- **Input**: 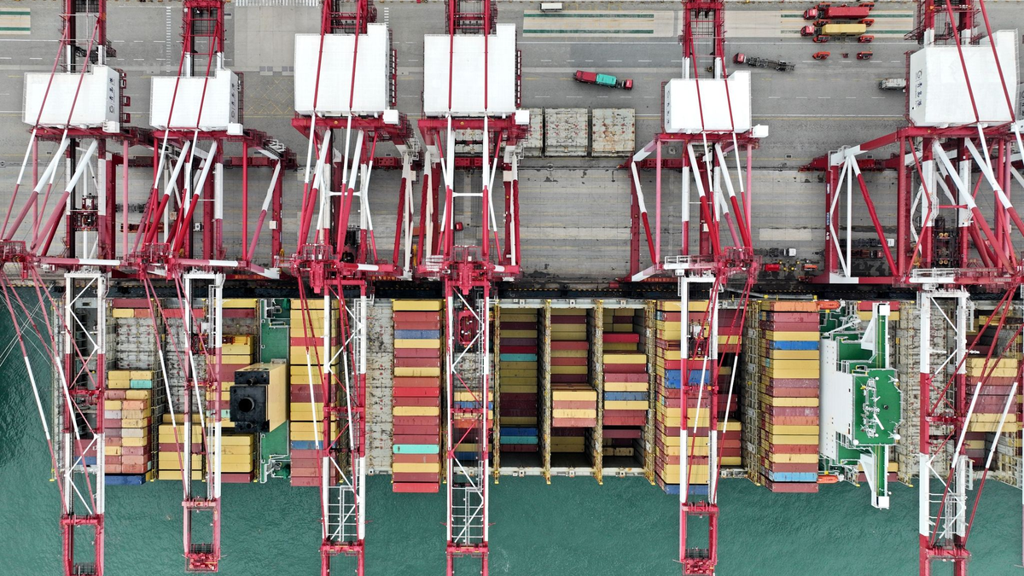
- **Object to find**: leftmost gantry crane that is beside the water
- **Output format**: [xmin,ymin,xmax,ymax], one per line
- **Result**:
[0,0,206,576]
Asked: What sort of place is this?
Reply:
port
